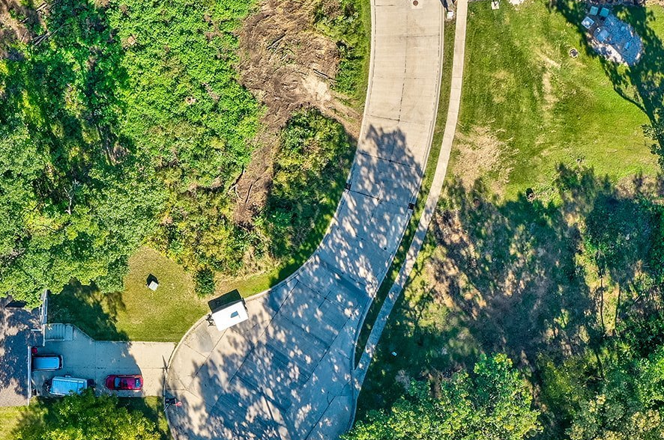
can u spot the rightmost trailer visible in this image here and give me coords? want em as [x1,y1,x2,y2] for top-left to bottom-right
[208,302,249,330]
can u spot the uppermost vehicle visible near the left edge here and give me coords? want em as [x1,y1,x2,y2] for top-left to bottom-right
[30,353,63,372]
